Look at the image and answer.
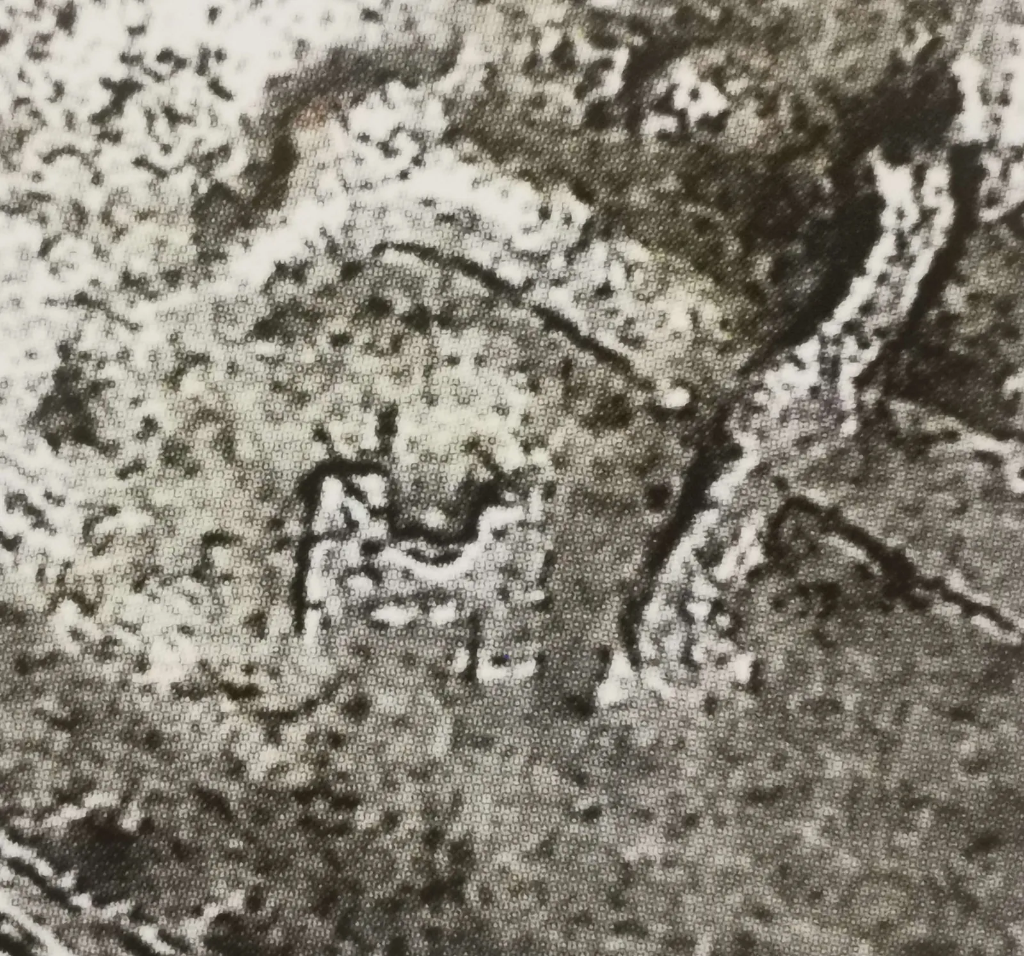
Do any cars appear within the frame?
No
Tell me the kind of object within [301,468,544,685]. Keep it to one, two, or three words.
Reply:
building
